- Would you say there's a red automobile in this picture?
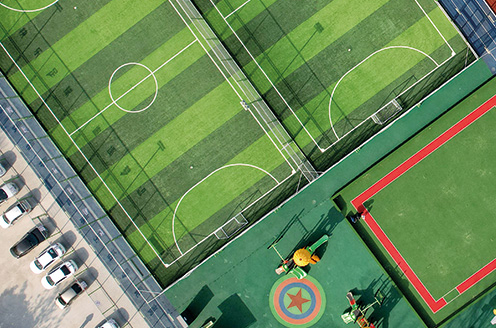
No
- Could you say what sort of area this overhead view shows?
sports ground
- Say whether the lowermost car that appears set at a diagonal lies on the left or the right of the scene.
left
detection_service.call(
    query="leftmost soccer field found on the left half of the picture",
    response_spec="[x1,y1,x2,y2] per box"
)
[0,0,316,288]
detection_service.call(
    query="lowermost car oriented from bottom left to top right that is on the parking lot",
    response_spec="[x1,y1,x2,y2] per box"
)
[55,278,92,309]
